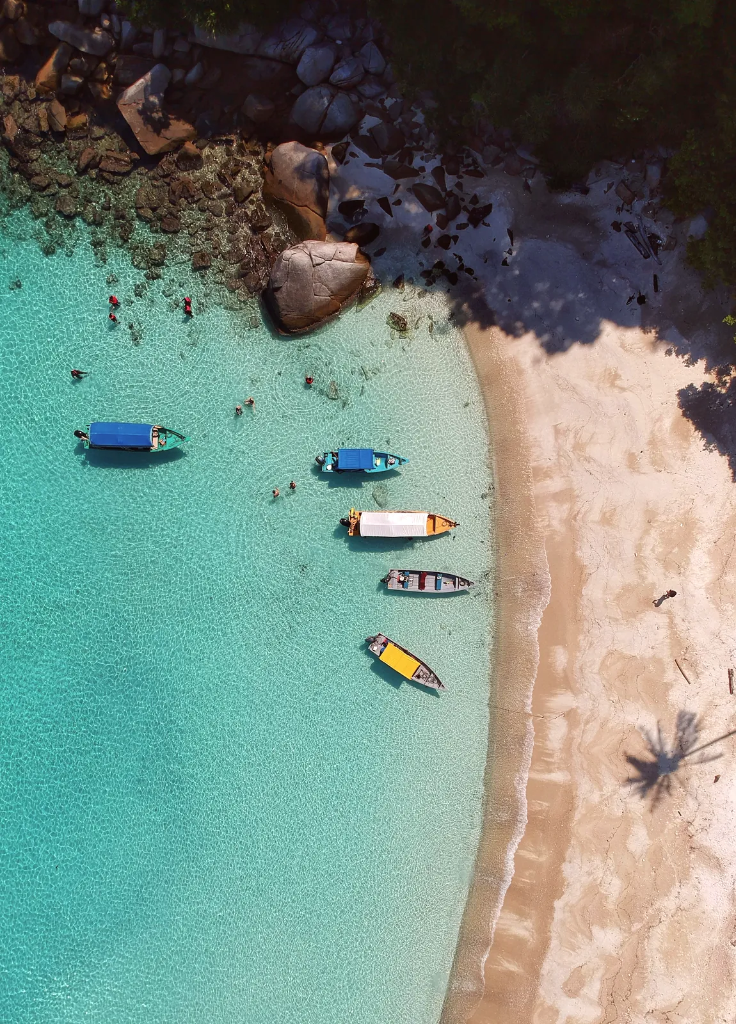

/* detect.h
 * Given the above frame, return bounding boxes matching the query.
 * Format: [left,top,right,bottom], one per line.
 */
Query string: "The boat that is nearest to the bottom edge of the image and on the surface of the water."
[367,634,446,690]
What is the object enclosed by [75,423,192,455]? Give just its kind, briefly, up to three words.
boat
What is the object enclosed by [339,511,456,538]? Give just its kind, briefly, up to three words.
boat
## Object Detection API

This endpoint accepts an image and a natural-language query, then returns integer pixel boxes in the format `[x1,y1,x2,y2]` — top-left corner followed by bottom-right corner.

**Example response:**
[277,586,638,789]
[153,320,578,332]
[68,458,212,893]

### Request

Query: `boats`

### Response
[339,511,456,538]
[378,570,476,594]
[75,423,192,455]
[367,634,446,690]
[313,448,409,474]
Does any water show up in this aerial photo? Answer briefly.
Yes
